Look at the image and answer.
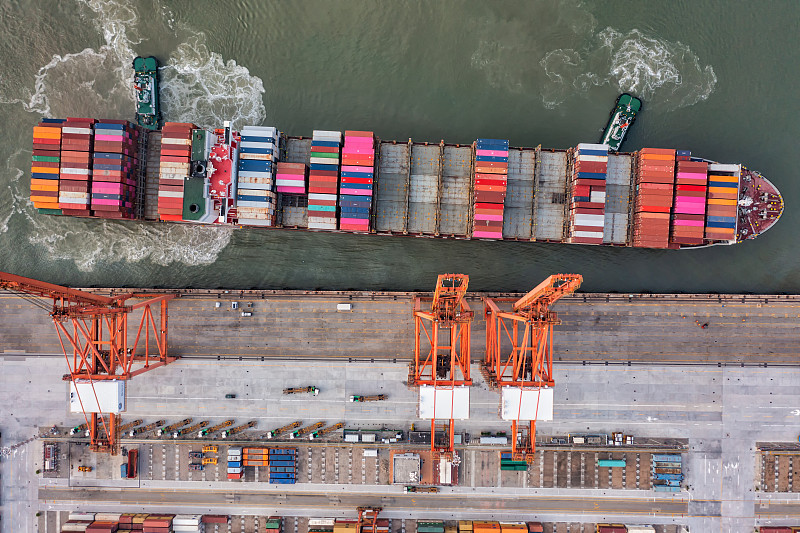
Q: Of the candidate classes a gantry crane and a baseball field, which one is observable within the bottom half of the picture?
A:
gantry crane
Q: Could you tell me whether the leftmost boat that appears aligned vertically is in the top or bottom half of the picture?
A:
top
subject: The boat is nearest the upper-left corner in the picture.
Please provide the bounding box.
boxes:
[131,53,164,130]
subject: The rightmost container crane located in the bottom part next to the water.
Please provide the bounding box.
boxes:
[473,270,584,467]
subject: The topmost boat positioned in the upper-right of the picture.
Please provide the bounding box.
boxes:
[594,90,643,152]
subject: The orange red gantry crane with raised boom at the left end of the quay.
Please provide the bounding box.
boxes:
[0,269,192,460]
